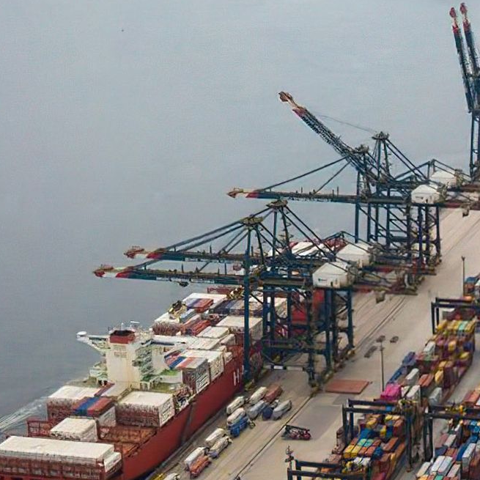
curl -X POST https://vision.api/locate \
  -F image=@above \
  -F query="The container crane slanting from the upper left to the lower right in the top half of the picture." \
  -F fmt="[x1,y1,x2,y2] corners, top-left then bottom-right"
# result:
[277,86,480,262]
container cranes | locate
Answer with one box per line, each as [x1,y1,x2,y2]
[341,395,420,463]
[227,144,480,283]
[123,200,435,367]
[447,2,480,176]
[92,217,416,389]
[433,294,480,335]
[277,86,480,262]
[288,455,372,480]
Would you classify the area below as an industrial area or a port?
port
